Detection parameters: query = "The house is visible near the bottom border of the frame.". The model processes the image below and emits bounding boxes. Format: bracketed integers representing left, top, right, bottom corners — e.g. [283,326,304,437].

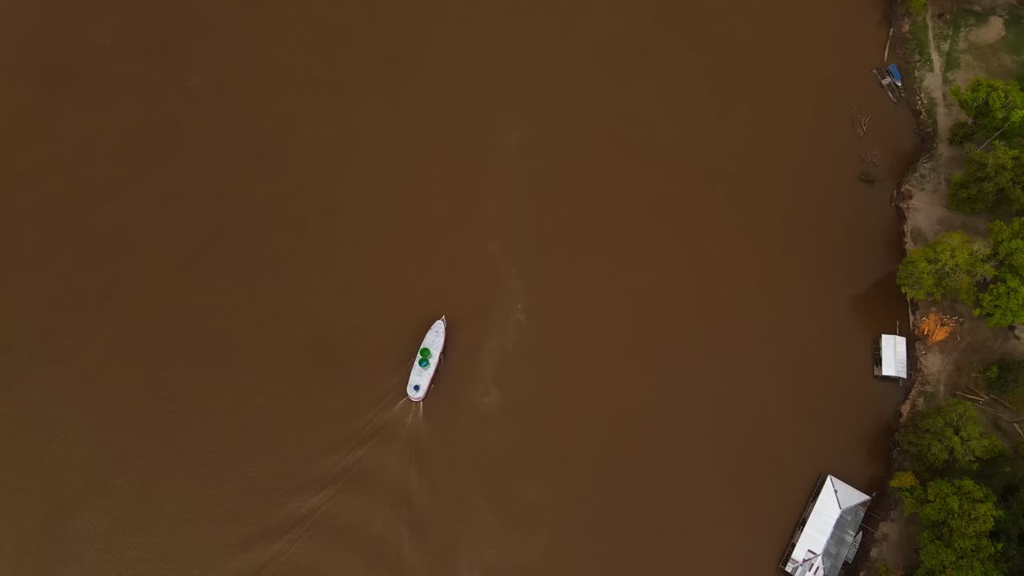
[778,471,871,576]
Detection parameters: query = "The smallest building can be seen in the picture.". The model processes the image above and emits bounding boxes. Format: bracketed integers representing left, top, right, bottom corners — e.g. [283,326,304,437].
[871,322,906,387]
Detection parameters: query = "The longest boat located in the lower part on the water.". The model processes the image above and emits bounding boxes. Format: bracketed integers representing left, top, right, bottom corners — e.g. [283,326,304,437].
[406,314,445,402]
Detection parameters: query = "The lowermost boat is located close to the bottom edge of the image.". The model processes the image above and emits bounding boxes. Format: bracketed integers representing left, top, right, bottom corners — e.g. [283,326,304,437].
[844,530,863,563]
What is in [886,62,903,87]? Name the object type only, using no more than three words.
boat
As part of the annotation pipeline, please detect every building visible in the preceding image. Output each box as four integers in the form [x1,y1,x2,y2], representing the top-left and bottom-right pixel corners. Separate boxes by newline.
[778,471,871,576]
[871,322,906,387]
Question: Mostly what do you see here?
water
